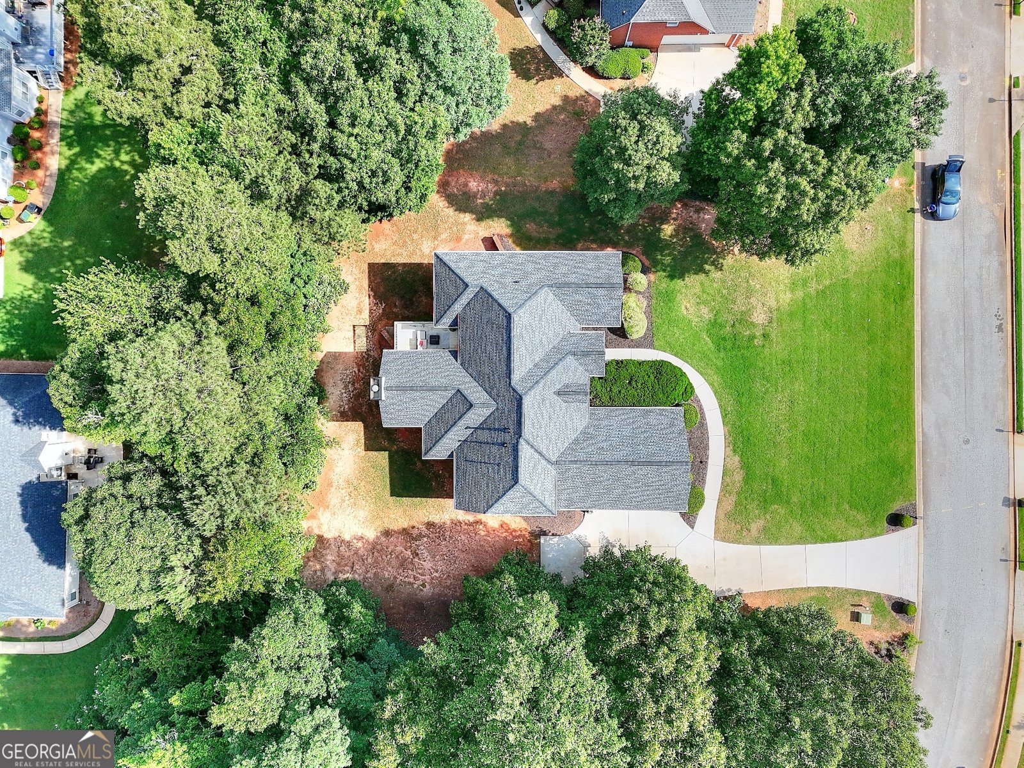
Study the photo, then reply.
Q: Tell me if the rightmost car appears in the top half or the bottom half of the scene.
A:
top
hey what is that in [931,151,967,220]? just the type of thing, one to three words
car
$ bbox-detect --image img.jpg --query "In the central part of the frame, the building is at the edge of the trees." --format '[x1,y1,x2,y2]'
[369,250,692,516]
